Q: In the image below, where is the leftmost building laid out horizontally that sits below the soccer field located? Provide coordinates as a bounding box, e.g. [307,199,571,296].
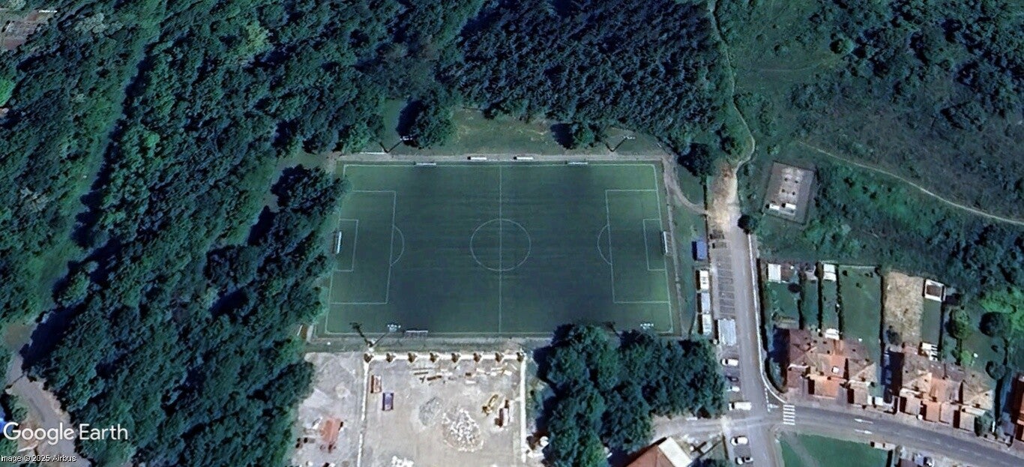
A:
[622,437,693,467]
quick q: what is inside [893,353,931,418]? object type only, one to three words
house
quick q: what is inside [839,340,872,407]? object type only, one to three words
house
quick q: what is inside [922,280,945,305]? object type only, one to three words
building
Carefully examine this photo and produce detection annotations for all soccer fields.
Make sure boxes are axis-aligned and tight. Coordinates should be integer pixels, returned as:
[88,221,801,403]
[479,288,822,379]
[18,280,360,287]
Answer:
[315,160,685,341]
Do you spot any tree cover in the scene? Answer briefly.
Yes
